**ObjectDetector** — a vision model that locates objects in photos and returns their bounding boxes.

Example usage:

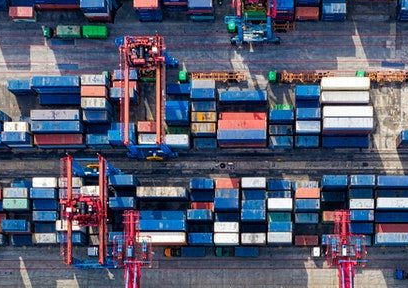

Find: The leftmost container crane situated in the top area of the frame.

[113,36,178,161]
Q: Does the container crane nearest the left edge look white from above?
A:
No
